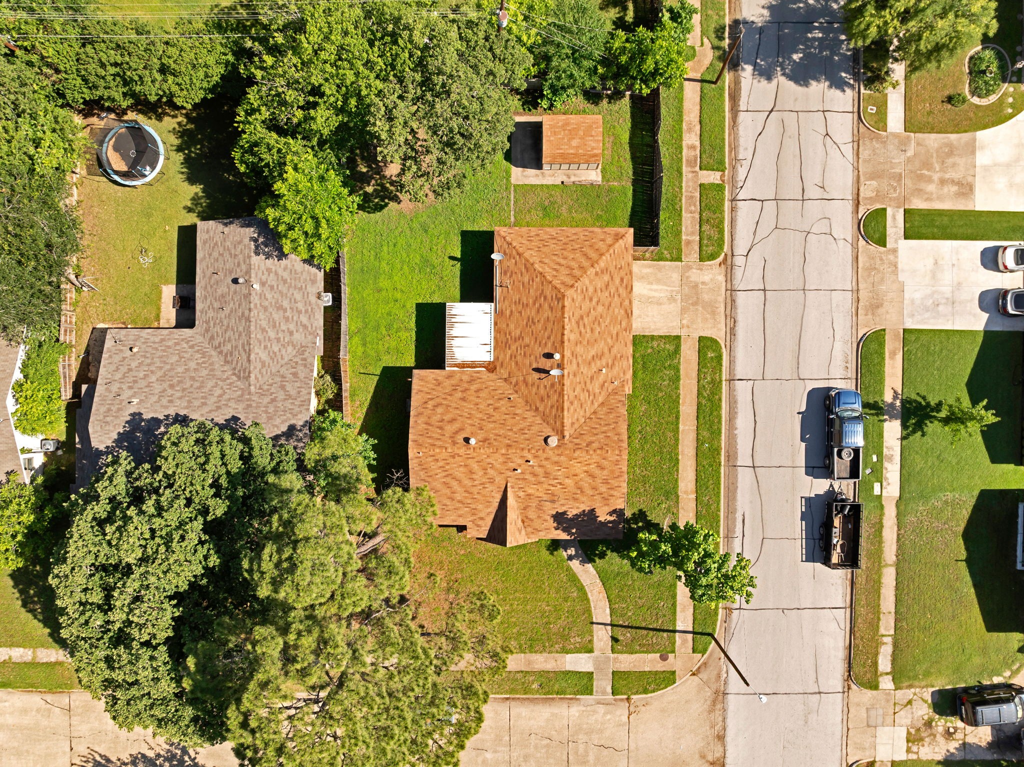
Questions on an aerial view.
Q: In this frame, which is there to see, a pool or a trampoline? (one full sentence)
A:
There is a trampoline in the scene.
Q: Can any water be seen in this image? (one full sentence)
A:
No, the scene doesn't show any water.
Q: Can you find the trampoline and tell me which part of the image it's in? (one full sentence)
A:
Look in the top left portion of the view to spot the trampoline.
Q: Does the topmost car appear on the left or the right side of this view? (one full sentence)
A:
The topmost car appears in the right half of the scene.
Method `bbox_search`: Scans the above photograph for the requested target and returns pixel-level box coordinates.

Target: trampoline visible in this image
[95,117,168,187]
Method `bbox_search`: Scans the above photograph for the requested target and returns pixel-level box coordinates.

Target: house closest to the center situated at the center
[409,226,635,547]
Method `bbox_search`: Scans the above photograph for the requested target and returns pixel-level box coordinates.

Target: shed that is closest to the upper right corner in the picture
[542,114,602,170]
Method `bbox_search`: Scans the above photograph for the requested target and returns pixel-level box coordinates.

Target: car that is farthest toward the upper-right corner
[995,245,1024,274]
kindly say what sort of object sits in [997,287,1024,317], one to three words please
car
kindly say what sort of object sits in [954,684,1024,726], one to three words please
car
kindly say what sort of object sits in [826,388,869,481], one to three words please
truck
